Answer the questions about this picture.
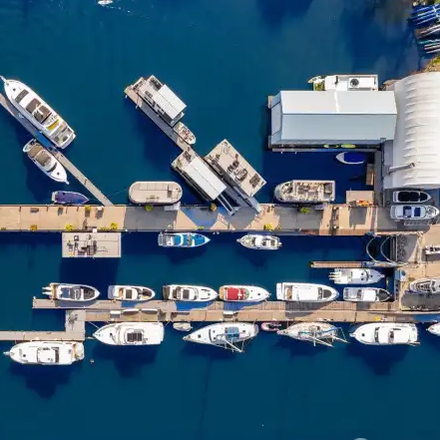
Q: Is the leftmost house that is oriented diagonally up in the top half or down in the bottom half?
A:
top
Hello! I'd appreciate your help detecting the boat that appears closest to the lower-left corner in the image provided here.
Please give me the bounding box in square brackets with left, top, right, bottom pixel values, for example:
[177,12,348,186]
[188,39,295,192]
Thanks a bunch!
[2,339,86,365]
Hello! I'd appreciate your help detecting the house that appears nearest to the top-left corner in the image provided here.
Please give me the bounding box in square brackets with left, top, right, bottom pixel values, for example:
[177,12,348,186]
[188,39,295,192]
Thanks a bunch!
[136,75,189,124]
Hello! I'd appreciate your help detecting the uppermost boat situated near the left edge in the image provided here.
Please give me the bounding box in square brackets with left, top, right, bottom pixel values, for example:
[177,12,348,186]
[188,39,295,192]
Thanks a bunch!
[0,75,79,155]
